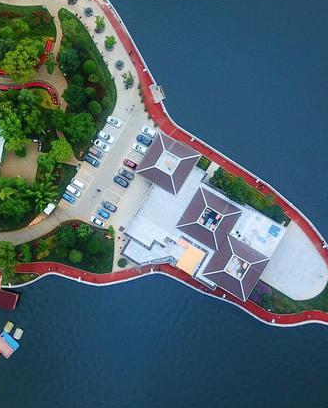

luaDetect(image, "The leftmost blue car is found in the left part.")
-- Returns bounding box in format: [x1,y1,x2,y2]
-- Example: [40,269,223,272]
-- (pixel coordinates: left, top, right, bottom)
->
[61,191,77,204]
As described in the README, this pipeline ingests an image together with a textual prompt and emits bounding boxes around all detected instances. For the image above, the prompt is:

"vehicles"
[64,184,81,197]
[135,133,152,147]
[113,175,130,188]
[93,139,110,151]
[95,207,111,219]
[131,142,148,155]
[89,215,105,228]
[61,191,77,204]
[88,146,103,159]
[140,126,157,138]
[101,200,118,213]
[104,115,121,128]
[97,130,113,143]
[122,158,138,170]
[118,168,135,180]
[69,177,84,189]
[83,155,99,167]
